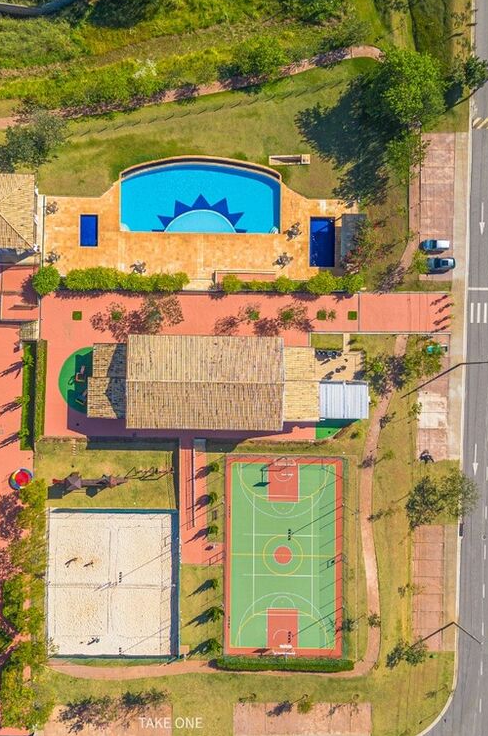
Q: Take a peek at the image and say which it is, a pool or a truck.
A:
pool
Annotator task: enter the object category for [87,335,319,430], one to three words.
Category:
building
